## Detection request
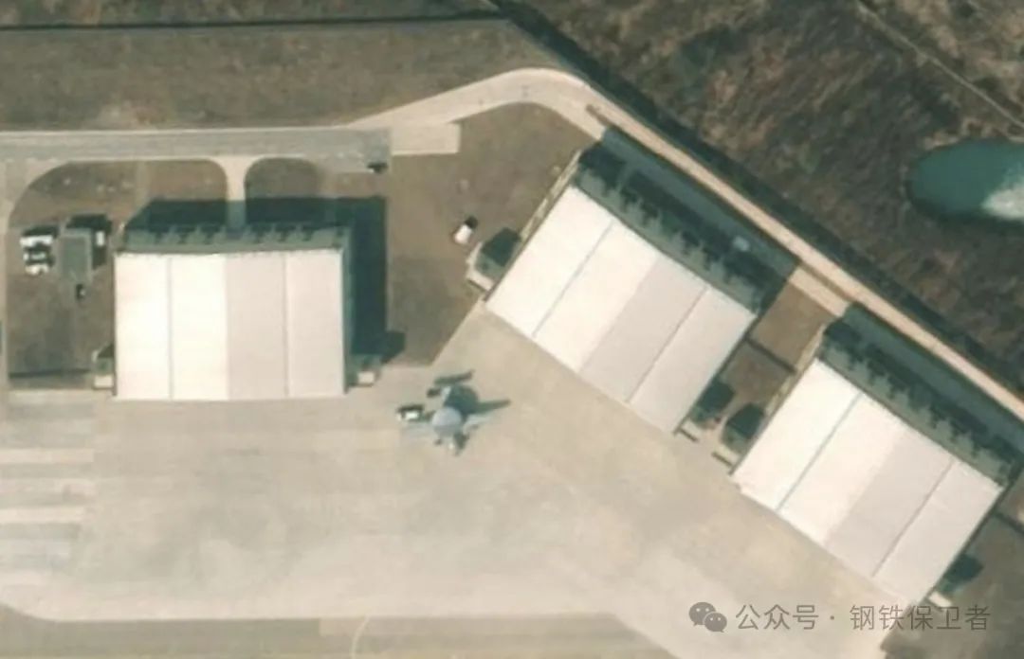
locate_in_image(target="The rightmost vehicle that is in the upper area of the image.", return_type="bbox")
[731,235,749,250]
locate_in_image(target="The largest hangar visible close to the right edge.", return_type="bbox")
[731,330,1011,607]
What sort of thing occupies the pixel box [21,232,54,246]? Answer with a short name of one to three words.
vehicle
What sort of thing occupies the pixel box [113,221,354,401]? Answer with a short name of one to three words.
hangar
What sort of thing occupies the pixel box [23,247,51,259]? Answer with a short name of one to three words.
vehicle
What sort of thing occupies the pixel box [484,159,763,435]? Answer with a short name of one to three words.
hangar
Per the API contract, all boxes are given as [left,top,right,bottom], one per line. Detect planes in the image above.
[402,388,497,448]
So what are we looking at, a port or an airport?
airport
